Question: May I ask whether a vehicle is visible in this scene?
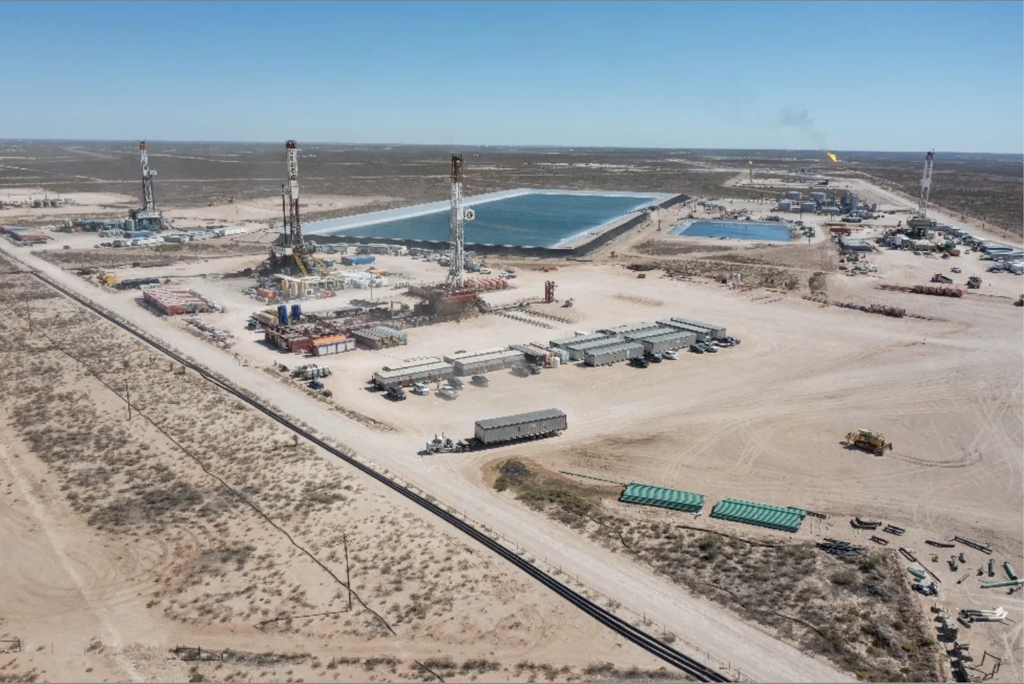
Yes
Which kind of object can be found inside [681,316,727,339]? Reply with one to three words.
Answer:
house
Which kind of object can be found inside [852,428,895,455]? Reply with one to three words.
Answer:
work vehicle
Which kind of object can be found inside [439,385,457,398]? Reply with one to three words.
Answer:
vehicle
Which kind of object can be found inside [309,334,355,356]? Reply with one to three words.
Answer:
building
